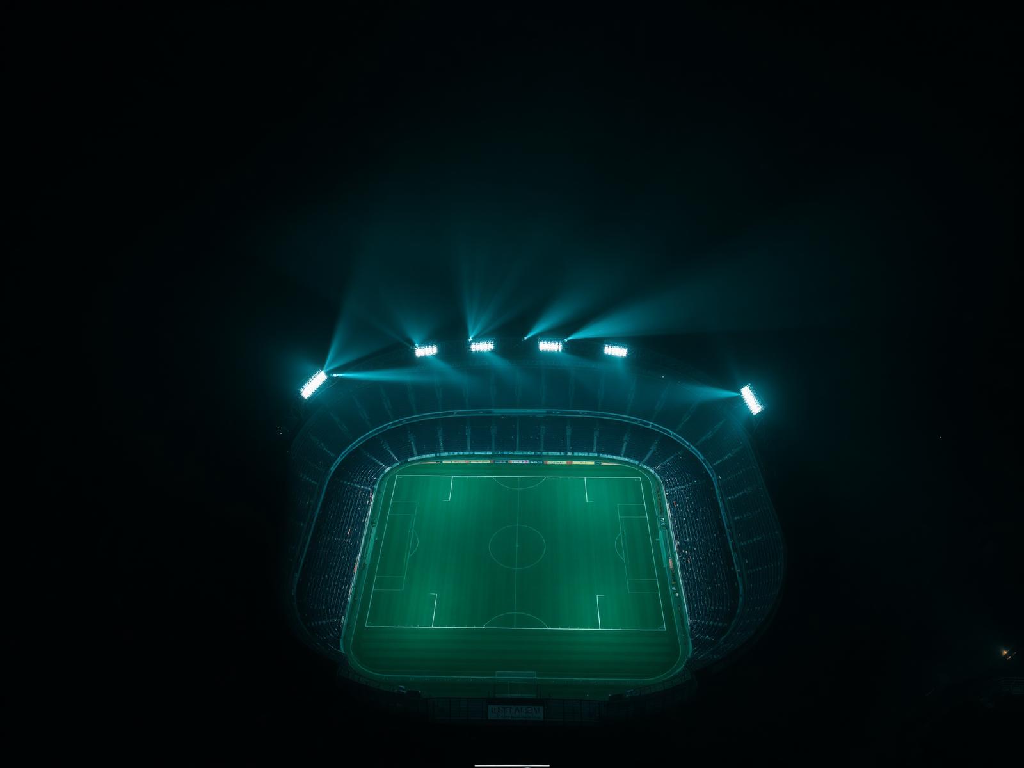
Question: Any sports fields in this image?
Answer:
Yes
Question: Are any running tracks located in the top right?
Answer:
No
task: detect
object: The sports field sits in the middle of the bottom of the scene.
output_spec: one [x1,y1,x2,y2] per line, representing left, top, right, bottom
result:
[351,462,681,681]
